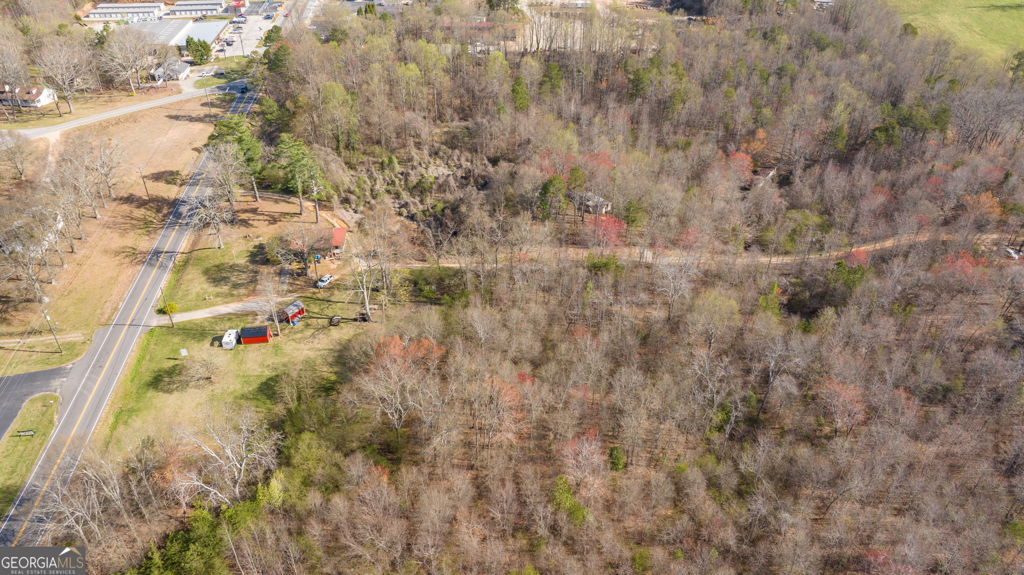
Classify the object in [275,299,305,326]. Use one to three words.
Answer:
shed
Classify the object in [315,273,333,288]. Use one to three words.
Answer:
car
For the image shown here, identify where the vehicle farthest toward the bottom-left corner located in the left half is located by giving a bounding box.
[218,324,240,349]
